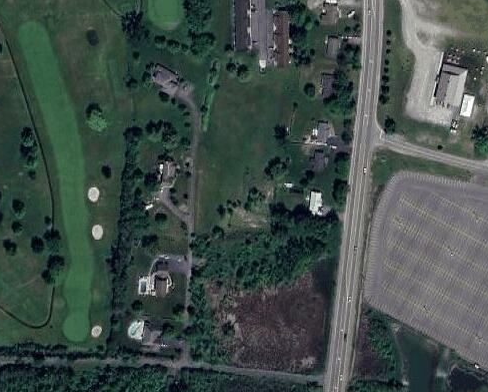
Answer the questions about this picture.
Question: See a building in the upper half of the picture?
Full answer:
Yes, a building appears in the upper half of the picture.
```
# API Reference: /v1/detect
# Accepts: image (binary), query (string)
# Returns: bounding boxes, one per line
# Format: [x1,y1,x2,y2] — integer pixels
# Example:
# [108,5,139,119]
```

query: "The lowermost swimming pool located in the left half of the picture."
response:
[129,319,144,339]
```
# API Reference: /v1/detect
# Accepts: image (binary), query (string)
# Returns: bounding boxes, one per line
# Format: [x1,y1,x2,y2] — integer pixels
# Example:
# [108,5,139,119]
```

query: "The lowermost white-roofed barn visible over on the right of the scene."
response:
[308,192,324,216]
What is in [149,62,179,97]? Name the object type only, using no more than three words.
house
